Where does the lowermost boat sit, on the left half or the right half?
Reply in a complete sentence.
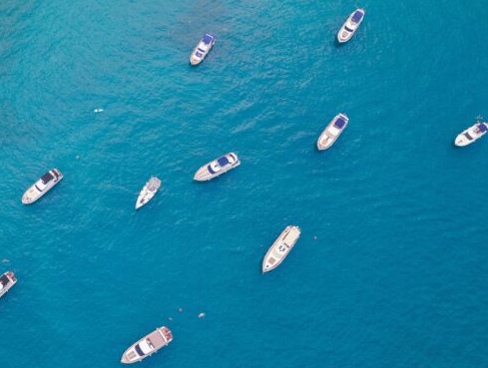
The lowermost boat appears in the left half of the scene.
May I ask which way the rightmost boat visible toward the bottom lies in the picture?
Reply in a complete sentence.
From this overhead view, the rightmost boat visible toward the bottom appears to run diagonally.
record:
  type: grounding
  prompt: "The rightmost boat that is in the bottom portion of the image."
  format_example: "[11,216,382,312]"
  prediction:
[261,224,300,275]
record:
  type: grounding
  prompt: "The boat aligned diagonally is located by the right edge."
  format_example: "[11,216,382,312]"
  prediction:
[454,121,488,146]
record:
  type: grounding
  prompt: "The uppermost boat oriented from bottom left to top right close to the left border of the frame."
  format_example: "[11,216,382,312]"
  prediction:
[22,169,63,205]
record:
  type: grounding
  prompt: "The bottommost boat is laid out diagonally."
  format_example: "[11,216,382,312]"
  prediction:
[120,326,172,363]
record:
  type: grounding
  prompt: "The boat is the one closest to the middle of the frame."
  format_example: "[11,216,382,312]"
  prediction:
[192,154,240,182]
